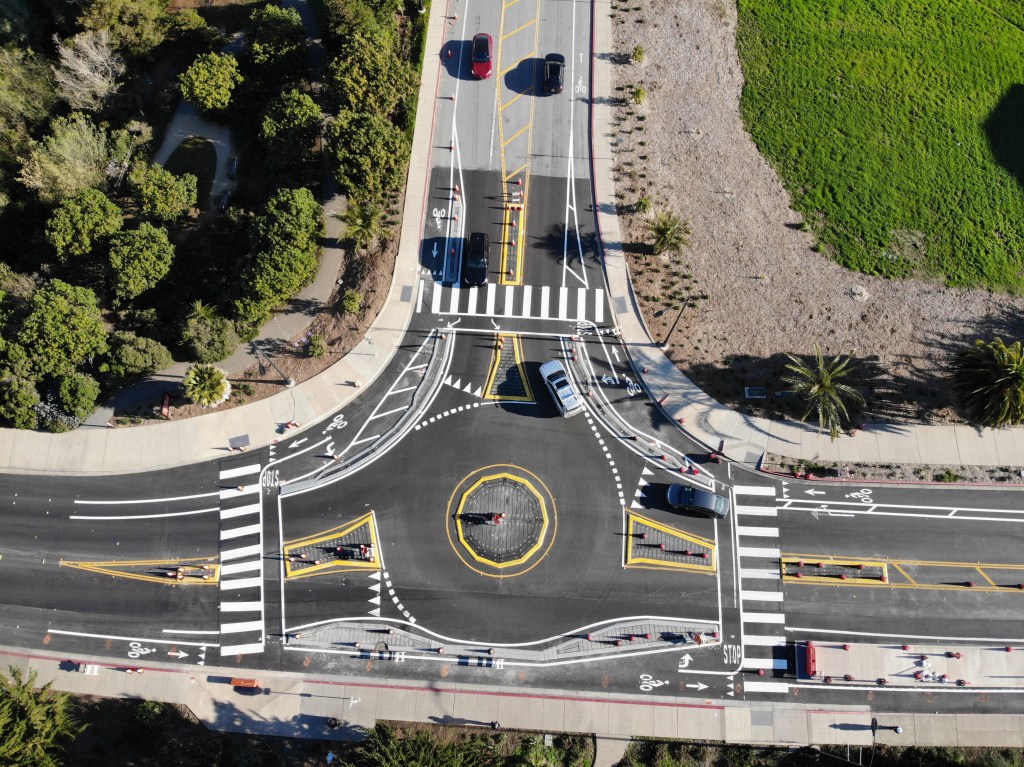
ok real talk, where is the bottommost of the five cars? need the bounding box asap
[664,483,731,520]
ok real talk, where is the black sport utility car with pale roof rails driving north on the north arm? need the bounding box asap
[542,55,566,97]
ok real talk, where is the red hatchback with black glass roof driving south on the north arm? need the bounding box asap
[469,35,493,80]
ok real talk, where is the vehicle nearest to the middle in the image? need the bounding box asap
[539,360,584,420]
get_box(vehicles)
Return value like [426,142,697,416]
[664,483,731,520]
[539,360,584,420]
[464,233,492,287]
[542,55,566,97]
[469,35,493,80]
